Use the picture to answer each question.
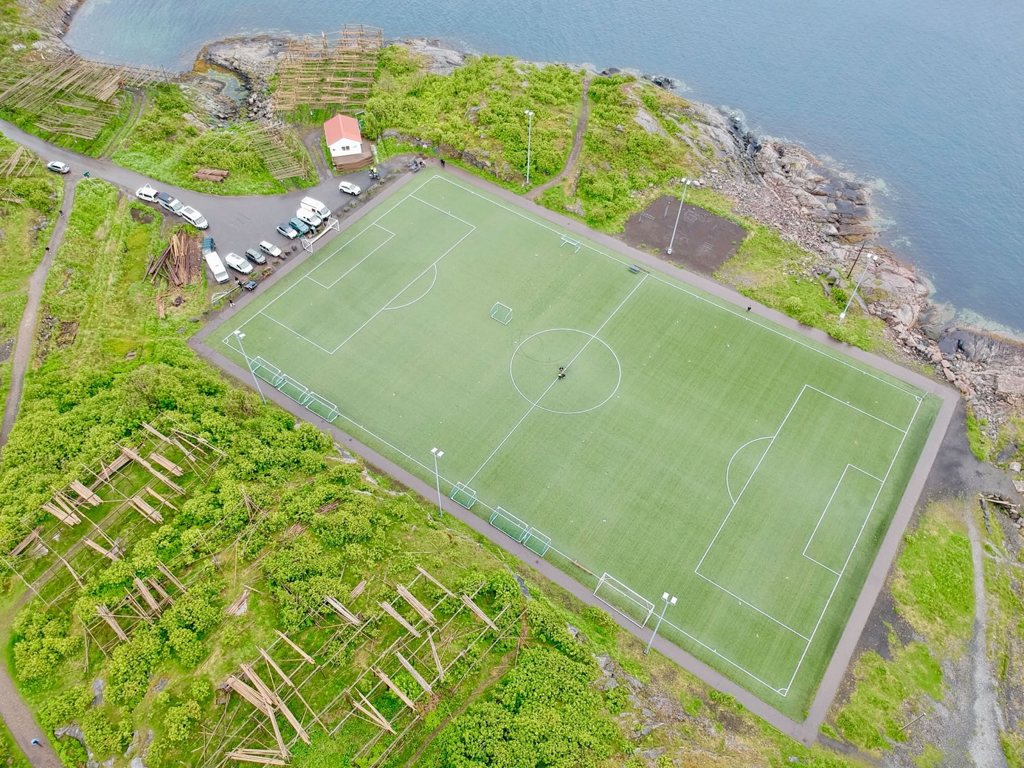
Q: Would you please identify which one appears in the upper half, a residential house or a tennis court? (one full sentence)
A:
There is a residential house in the upper half.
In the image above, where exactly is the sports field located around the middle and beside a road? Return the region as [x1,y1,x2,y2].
[204,165,945,725]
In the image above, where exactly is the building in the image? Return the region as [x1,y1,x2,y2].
[325,113,376,170]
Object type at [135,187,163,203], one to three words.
car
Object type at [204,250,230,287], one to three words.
camper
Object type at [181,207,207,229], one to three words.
vehicle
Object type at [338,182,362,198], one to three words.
car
